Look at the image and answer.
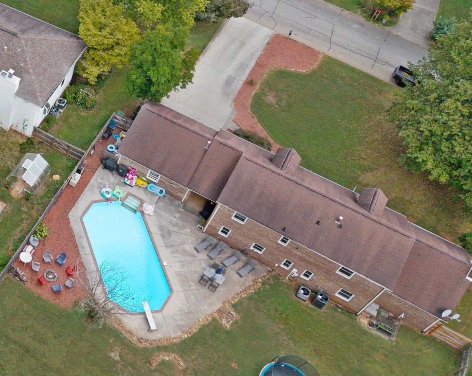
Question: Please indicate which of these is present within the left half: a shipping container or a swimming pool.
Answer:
swimming pool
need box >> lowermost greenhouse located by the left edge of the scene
[8,151,44,196]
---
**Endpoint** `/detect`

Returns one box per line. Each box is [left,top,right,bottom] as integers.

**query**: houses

[116,99,472,332]
[0,4,90,132]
